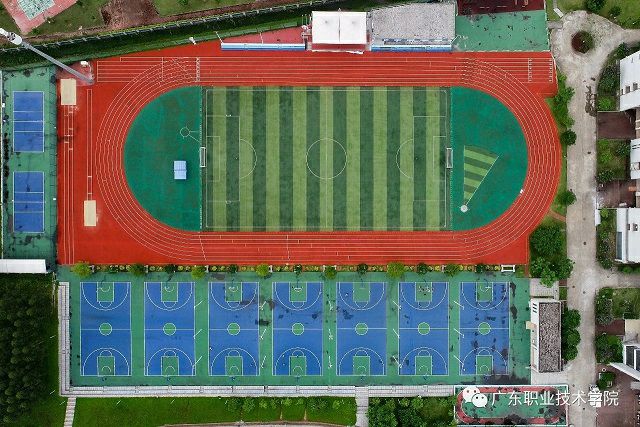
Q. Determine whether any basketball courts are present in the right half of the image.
Yes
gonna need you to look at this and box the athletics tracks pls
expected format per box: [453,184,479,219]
[58,42,561,264]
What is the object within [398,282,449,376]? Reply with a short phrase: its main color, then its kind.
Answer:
blue basketball court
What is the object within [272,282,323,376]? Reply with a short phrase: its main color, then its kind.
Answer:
blue basketball court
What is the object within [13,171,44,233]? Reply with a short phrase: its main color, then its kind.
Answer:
blue sports court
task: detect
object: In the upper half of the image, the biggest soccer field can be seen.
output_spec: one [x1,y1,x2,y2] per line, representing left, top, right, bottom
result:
[201,86,452,231]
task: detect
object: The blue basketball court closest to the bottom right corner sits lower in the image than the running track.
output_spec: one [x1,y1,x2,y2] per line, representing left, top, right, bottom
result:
[459,282,510,376]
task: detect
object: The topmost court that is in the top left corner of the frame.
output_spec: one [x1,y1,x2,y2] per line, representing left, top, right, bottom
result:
[4,0,73,33]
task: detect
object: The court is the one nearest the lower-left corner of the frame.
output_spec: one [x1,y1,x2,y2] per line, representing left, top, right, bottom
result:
[80,282,131,376]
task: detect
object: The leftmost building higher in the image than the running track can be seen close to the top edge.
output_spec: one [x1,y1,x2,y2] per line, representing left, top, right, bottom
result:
[369,1,456,46]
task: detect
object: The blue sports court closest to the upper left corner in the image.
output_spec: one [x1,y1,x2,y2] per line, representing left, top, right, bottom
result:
[13,91,44,152]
